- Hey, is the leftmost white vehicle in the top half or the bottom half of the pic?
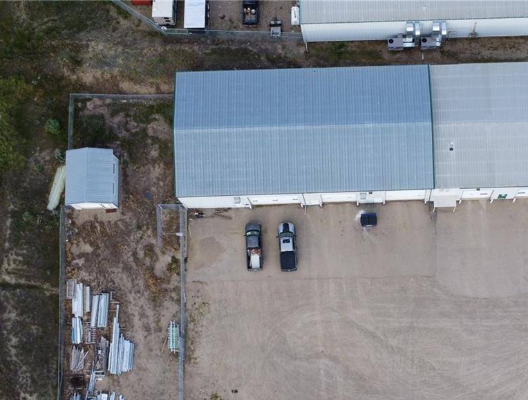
top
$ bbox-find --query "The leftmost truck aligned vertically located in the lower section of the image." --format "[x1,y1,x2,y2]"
[242,222,265,271]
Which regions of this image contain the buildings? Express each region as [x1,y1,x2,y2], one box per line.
[65,147,119,214]
[172,62,528,212]
[299,0,528,54]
